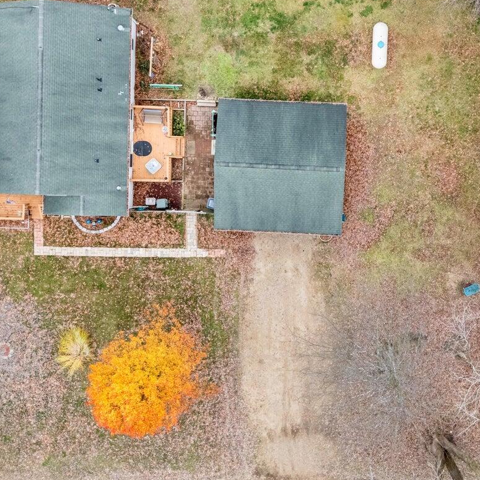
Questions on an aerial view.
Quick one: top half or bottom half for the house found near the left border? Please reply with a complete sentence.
It is in the top half that the house found near the left border appears.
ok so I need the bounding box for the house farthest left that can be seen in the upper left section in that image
[0,0,141,218]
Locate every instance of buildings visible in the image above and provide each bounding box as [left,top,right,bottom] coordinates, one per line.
[0,0,141,218]
[211,97,348,239]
